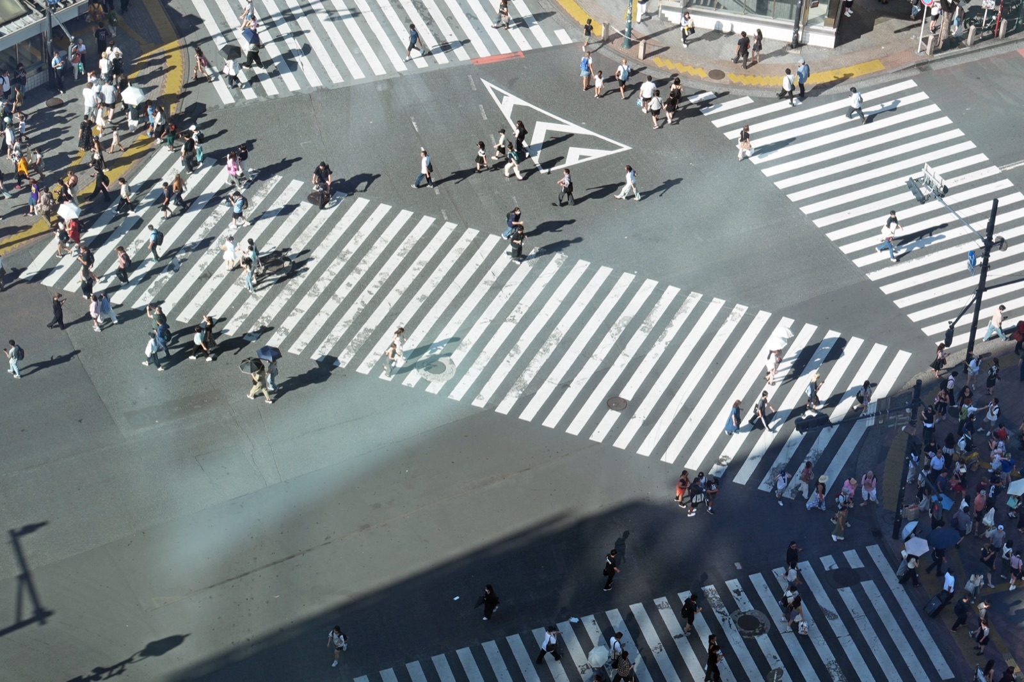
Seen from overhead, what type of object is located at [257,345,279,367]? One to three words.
umbrella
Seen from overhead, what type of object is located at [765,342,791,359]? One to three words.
umbrella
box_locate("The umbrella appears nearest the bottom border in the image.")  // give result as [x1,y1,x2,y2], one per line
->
[587,652,613,671]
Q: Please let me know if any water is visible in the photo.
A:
No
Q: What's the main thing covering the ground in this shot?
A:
paved ground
